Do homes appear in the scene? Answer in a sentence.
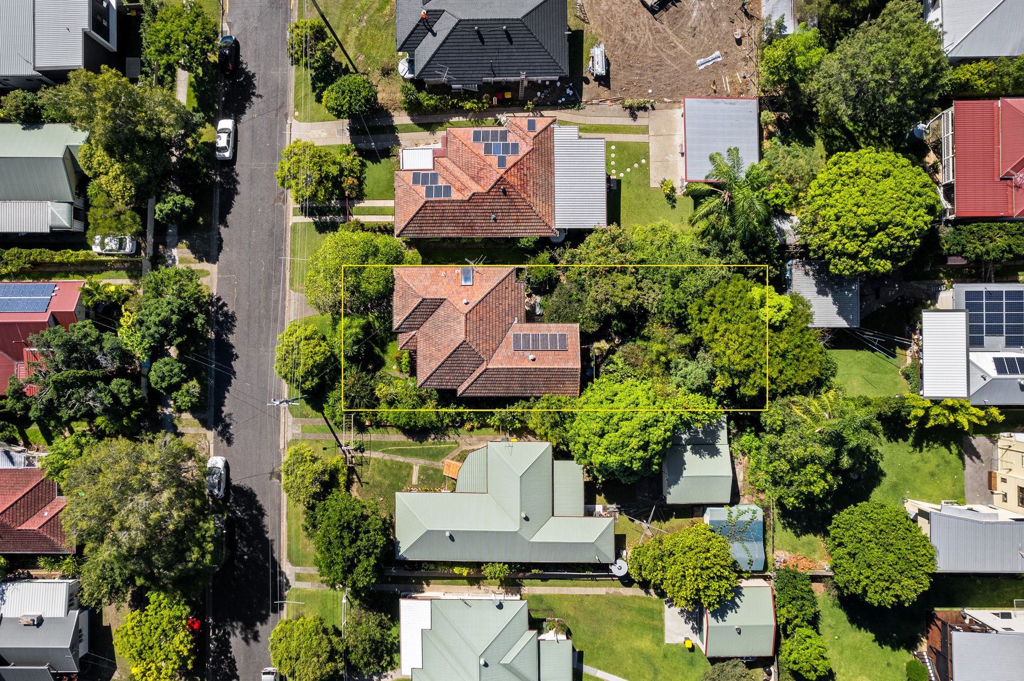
Yes, looking at the shot, I can spot a home.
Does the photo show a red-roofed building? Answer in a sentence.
Yes, the picture does show a red-roofed building.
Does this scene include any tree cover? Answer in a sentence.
Yes, the picture does contain tree cover.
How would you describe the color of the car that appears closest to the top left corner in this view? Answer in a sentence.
The color of the car that appears closest to the top left corner is black.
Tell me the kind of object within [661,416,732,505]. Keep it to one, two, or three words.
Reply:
building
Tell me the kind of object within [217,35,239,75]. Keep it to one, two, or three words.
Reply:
car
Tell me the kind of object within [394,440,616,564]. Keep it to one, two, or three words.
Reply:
building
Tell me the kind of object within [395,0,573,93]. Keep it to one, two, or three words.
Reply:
house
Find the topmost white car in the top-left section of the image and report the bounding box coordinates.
[214,120,235,160]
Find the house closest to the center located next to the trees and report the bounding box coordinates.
[392,264,580,398]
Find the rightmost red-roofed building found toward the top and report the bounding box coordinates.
[930,97,1024,221]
